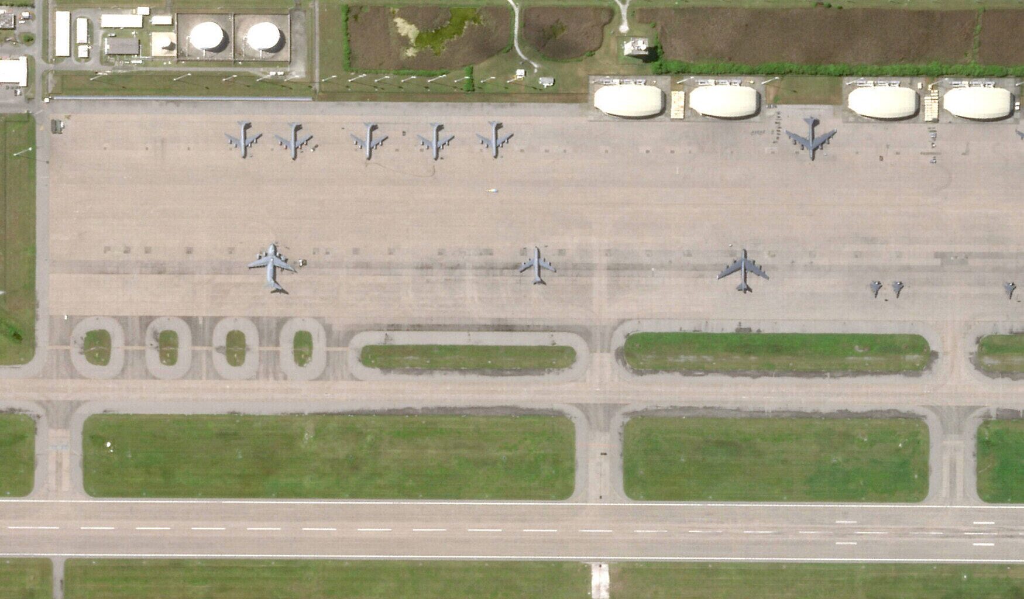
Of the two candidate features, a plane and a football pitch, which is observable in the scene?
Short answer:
plane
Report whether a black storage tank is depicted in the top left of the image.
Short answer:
No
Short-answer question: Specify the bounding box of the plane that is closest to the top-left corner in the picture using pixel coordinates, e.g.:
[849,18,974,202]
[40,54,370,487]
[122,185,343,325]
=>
[225,118,261,157]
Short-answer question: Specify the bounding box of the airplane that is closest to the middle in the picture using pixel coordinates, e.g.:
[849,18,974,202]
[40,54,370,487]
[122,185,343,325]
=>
[519,247,555,284]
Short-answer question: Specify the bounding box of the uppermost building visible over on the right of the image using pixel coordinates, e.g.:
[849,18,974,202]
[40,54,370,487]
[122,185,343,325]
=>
[624,37,649,55]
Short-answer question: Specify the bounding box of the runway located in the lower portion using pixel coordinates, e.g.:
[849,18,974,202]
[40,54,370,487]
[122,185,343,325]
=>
[0,501,1024,561]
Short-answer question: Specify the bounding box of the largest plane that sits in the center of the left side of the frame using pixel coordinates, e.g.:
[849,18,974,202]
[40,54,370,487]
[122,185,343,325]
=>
[249,244,296,291]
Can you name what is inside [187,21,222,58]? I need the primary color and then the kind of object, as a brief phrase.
white storage tank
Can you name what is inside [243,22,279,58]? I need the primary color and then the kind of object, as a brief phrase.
white storage tank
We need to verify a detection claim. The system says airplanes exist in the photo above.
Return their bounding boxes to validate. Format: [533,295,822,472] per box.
[275,119,311,158]
[351,119,387,158]
[718,249,769,292]
[786,115,837,159]
[1005,282,1016,299]
[892,281,904,297]
[870,281,882,296]
[225,118,261,157]
[418,120,454,158]
[249,244,296,291]
[519,247,555,284]
[478,118,514,156]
